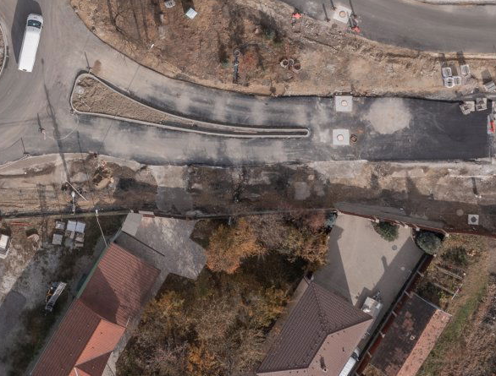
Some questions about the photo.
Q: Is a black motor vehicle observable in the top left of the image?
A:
No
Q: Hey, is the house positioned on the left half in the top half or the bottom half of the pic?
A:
bottom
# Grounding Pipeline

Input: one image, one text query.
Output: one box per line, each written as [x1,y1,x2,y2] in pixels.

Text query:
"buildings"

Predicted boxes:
[366,291,452,376]
[256,281,373,376]
[32,242,161,376]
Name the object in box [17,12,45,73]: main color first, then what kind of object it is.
white vehicle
